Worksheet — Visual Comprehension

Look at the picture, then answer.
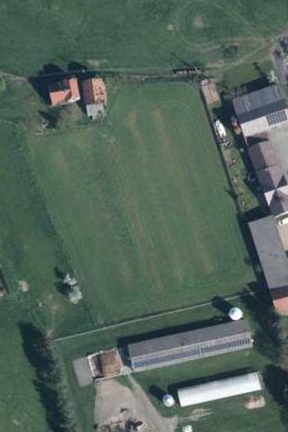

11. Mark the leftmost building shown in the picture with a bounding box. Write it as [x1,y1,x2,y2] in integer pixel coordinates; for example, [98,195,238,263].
[49,77,80,105]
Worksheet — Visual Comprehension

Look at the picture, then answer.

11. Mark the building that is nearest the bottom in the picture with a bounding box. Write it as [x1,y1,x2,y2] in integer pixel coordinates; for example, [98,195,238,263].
[178,372,261,406]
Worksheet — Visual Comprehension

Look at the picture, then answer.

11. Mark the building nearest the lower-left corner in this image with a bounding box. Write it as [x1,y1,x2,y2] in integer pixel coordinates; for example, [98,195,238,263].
[88,349,124,380]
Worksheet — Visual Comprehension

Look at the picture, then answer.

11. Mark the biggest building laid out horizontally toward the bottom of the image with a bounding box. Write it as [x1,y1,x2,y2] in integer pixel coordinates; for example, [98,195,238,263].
[128,322,252,371]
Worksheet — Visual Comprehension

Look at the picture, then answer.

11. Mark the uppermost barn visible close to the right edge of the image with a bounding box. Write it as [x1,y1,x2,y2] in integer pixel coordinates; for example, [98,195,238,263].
[233,85,288,136]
